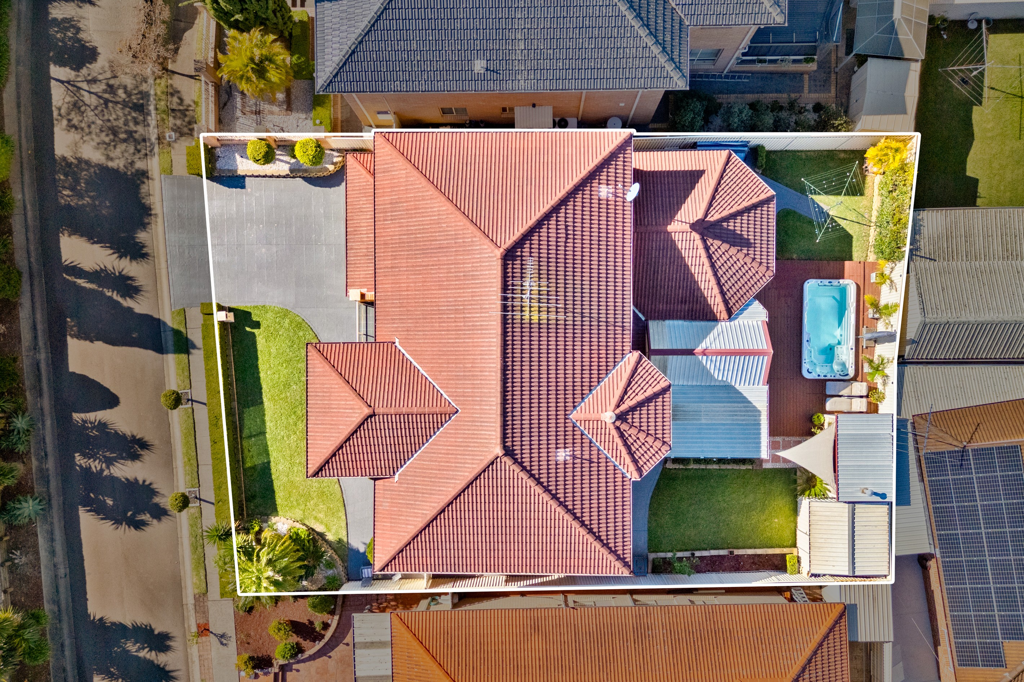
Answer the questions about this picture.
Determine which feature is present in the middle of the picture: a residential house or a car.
residential house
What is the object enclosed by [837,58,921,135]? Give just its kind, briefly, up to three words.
shed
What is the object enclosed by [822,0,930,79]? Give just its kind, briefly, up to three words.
gazebo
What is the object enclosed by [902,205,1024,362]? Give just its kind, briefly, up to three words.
building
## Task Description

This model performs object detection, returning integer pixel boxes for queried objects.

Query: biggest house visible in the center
[303,128,778,578]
